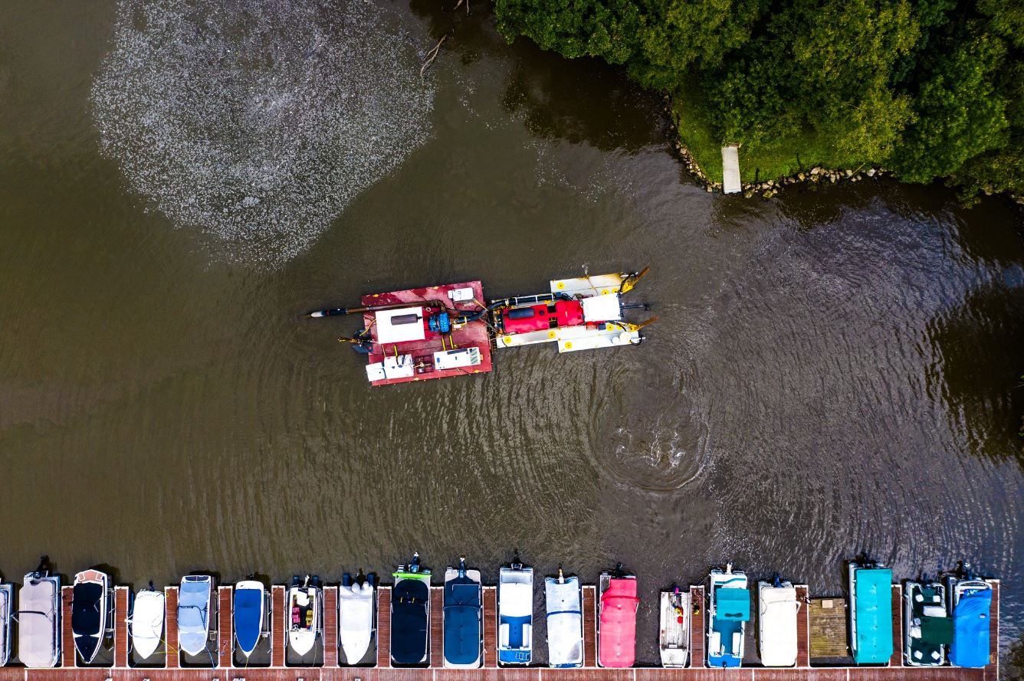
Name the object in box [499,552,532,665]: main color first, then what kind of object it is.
white boat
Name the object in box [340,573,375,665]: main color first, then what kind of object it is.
white boat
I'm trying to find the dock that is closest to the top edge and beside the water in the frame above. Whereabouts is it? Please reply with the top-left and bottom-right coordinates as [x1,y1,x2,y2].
[719,142,742,197]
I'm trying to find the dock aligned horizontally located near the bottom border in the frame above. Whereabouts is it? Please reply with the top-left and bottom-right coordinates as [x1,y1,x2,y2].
[0,576,999,681]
